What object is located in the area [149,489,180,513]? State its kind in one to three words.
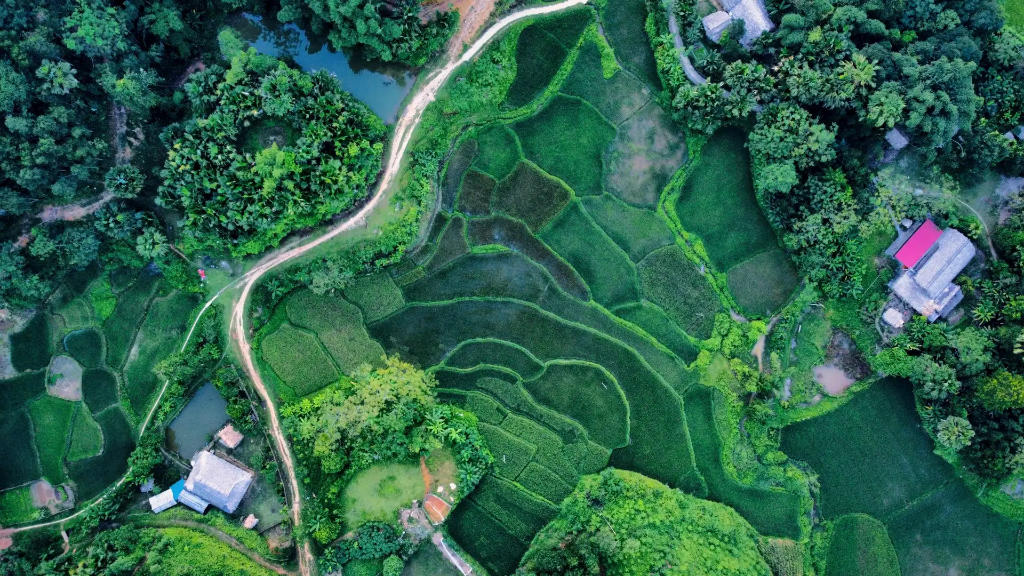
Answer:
shed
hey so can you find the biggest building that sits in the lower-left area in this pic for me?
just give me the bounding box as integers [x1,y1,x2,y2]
[184,450,254,514]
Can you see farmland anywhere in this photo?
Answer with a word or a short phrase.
Yes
